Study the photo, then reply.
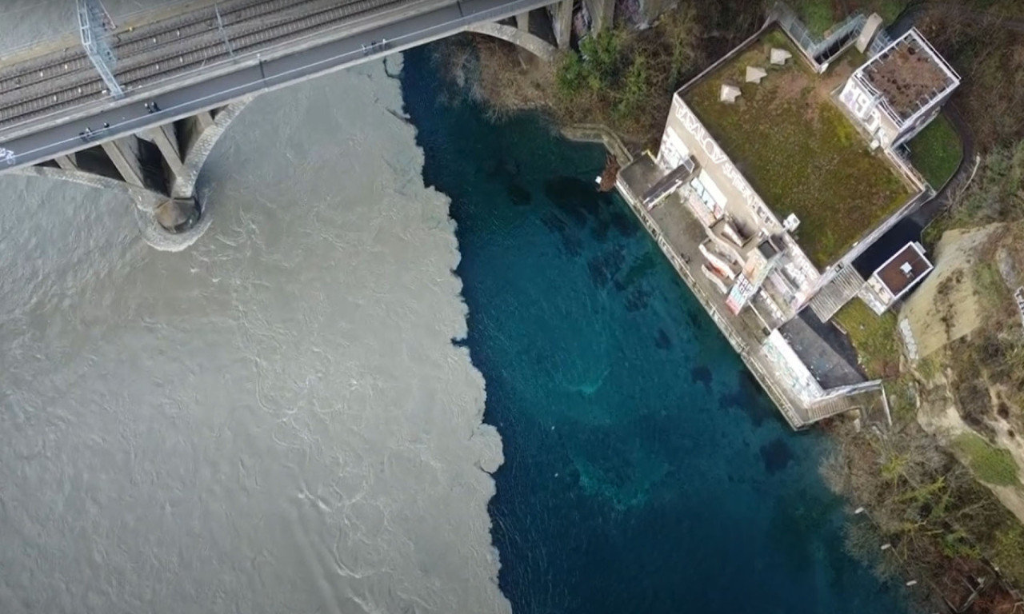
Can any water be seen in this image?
Yes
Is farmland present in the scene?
No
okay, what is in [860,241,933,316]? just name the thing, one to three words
shed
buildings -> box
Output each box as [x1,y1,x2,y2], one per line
[860,241,933,316]
[658,24,931,350]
